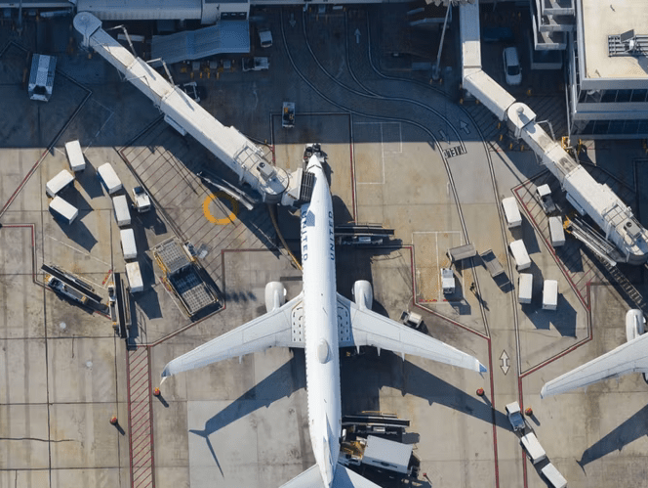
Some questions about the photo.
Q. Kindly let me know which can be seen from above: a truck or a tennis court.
truck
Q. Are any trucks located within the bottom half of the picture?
Yes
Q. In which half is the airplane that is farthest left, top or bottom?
bottom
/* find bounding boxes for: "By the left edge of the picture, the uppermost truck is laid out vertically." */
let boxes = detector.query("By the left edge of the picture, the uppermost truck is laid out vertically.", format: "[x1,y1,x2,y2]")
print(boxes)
[28,51,55,103]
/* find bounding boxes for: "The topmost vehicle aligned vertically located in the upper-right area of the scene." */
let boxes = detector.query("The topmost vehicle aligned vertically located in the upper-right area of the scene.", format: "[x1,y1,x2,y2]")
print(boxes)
[501,47,523,88]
